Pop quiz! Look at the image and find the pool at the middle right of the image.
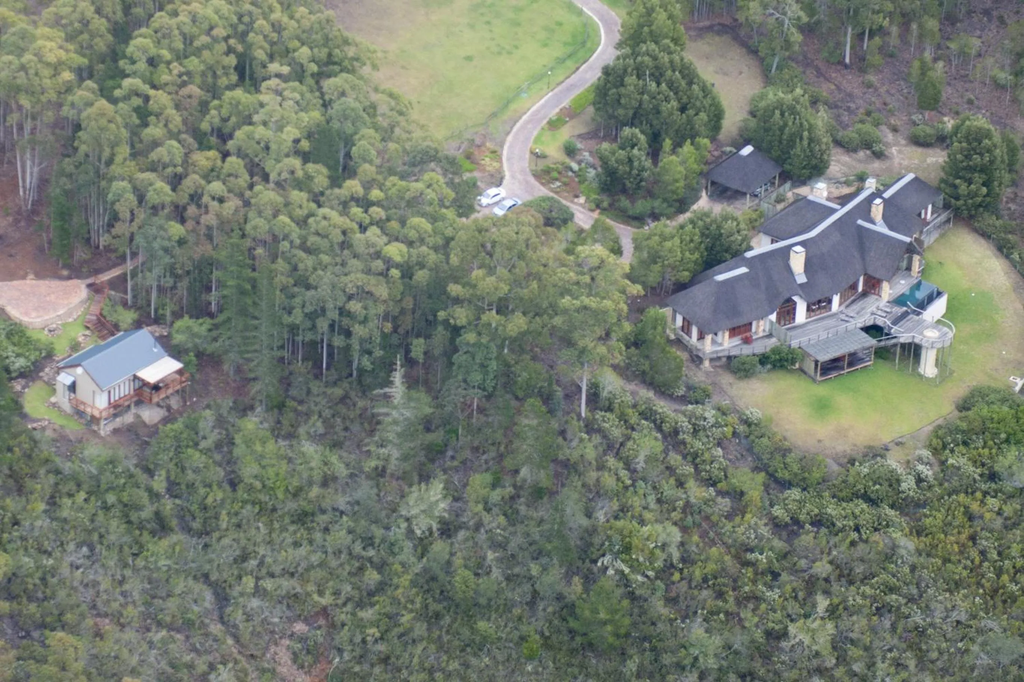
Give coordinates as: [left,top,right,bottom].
[891,278,948,326]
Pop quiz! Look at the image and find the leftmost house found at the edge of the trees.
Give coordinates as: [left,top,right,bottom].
[57,328,184,424]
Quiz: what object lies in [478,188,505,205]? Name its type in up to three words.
car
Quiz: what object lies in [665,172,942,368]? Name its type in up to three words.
house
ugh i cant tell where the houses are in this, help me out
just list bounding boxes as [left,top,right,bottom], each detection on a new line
[665,172,942,368]
[57,328,184,424]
